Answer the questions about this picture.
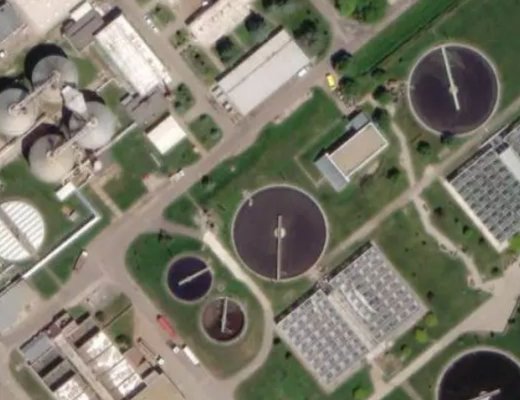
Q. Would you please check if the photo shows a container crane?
No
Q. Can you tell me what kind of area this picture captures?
industrial area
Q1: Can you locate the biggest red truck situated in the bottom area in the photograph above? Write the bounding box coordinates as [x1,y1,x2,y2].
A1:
[155,314,177,339]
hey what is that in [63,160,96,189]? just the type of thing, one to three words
building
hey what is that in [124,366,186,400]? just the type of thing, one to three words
building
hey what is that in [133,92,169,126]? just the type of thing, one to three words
shed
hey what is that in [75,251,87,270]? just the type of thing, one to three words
vehicle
